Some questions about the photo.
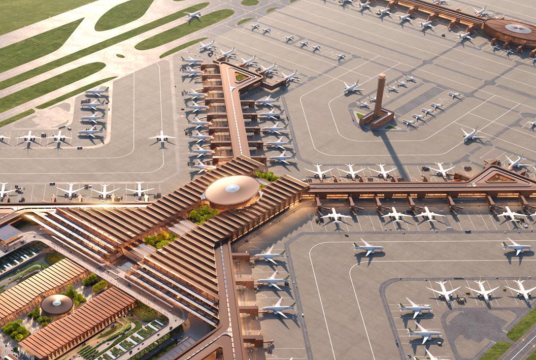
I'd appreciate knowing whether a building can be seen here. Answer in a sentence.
Yes, a building can be made out from above.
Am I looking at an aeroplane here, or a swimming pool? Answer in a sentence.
There is an aeroplane in the scene.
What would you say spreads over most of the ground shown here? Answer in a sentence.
The scene is dominated by paved ground.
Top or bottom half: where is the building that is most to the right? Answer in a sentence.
The building that is most to the right is in the top half of the image.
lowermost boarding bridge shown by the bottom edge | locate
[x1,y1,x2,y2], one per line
[243,334,274,348]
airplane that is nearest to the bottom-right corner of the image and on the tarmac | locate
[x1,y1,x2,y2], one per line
[507,278,536,301]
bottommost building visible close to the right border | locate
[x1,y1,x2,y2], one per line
[482,18,536,53]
